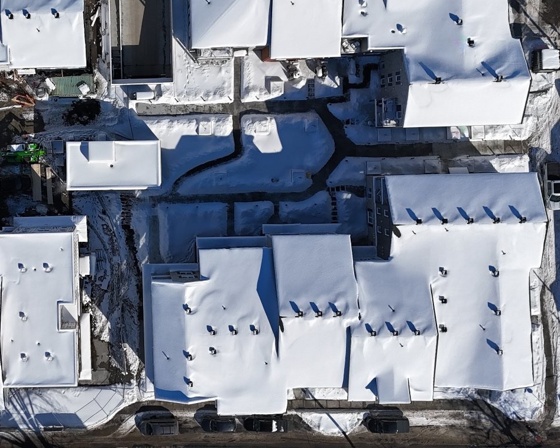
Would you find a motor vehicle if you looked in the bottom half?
Yes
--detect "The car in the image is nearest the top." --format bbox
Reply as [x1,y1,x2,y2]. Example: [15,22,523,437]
[528,49,560,70]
